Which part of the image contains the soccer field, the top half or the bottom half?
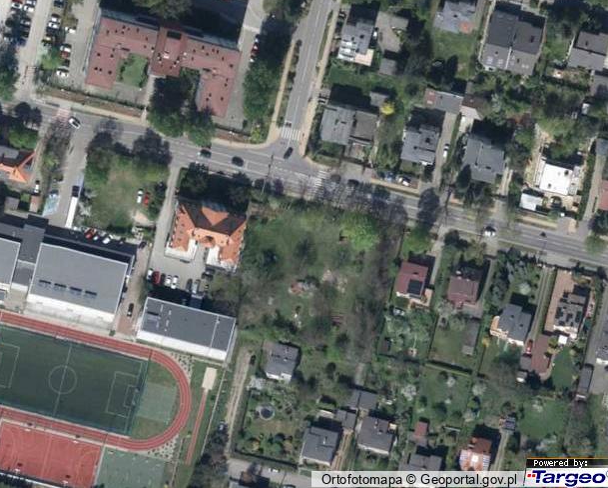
bottom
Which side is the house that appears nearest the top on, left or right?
right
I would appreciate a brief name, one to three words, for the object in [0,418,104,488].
sports court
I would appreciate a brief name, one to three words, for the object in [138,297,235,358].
building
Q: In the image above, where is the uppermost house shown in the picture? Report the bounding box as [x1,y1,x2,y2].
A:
[433,1,477,39]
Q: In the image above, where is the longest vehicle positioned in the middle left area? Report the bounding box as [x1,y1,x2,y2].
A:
[66,193,78,228]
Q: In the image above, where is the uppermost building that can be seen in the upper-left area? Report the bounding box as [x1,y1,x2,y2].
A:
[85,16,241,128]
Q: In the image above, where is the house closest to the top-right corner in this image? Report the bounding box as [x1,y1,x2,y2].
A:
[567,32,608,75]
